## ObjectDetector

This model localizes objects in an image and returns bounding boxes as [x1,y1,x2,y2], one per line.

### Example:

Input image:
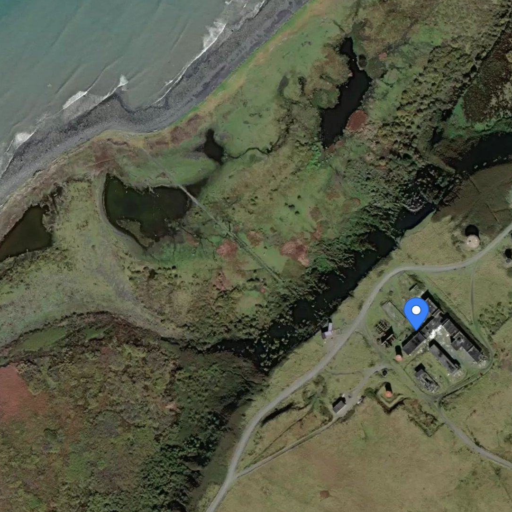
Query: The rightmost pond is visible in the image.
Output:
[319,34,375,149]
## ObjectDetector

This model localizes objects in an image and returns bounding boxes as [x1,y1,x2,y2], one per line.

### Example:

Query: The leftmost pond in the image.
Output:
[0,206,56,263]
